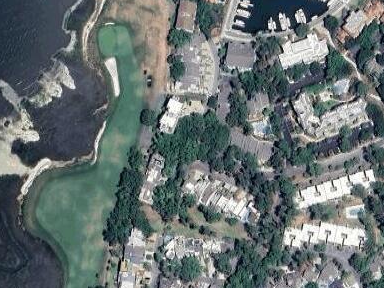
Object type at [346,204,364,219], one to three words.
swimming pool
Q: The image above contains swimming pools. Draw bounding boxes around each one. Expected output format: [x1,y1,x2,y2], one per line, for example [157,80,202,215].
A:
[334,80,350,94]
[346,204,364,219]
[252,119,271,136]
